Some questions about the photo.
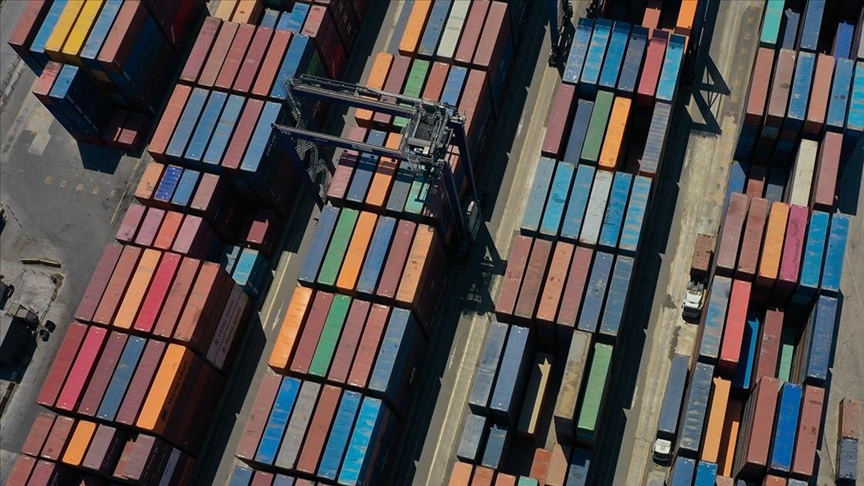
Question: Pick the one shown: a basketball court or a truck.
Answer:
truck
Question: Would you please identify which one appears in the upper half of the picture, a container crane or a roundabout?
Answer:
container crane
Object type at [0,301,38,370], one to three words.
truck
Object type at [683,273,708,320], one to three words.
truck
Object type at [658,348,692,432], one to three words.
shipping container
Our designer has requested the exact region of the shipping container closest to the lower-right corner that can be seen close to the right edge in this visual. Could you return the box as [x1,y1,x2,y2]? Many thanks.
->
[830,440,858,486]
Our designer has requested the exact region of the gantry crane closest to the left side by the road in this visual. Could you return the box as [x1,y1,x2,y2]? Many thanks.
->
[267,66,487,262]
